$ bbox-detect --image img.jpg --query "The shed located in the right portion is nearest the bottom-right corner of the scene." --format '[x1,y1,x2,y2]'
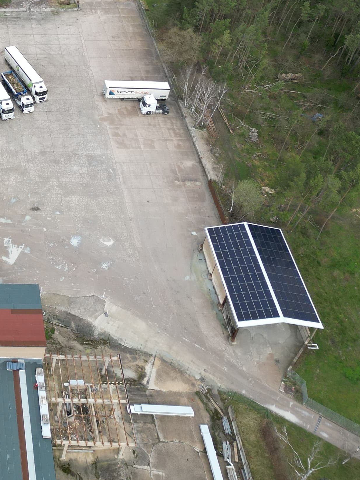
[200,223,323,345]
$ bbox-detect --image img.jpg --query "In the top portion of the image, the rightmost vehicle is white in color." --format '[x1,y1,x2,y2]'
[140,94,171,114]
